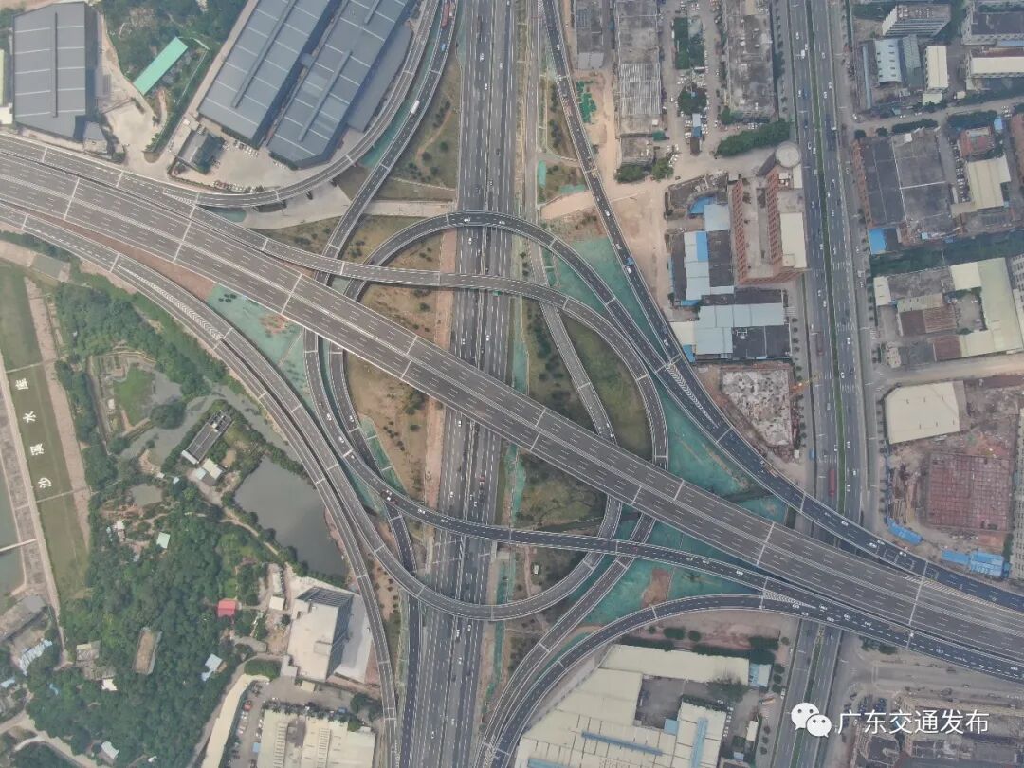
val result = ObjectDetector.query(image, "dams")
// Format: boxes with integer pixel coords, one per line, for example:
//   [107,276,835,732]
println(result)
[0,237,84,633]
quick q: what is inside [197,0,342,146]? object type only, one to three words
warehouse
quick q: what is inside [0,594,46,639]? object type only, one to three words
shed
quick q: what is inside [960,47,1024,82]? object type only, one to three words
building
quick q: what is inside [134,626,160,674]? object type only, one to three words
house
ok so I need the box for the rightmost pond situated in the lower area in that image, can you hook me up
[234,456,344,575]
